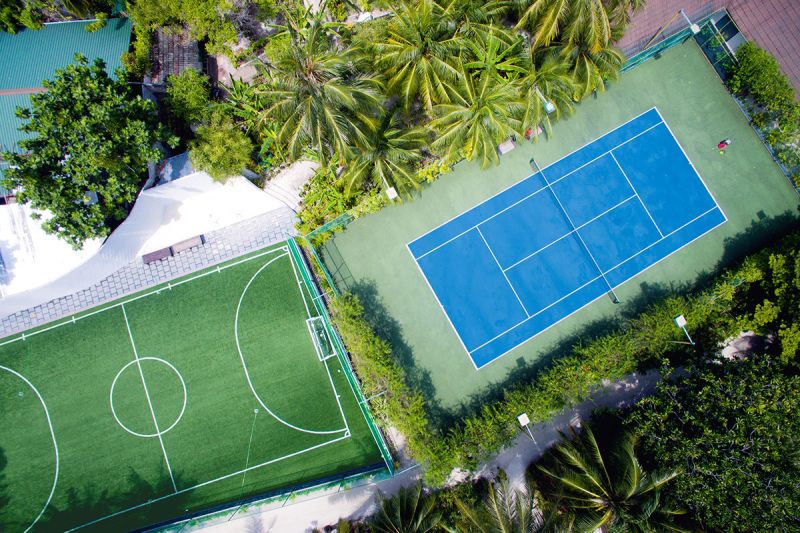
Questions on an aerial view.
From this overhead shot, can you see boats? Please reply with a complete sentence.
No, I can see no boat in this picture.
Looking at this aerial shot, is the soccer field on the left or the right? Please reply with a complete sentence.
You can find the soccer field on the left side of the picture.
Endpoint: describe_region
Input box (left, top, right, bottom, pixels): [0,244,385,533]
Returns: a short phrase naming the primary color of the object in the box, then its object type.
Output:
green soccer field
